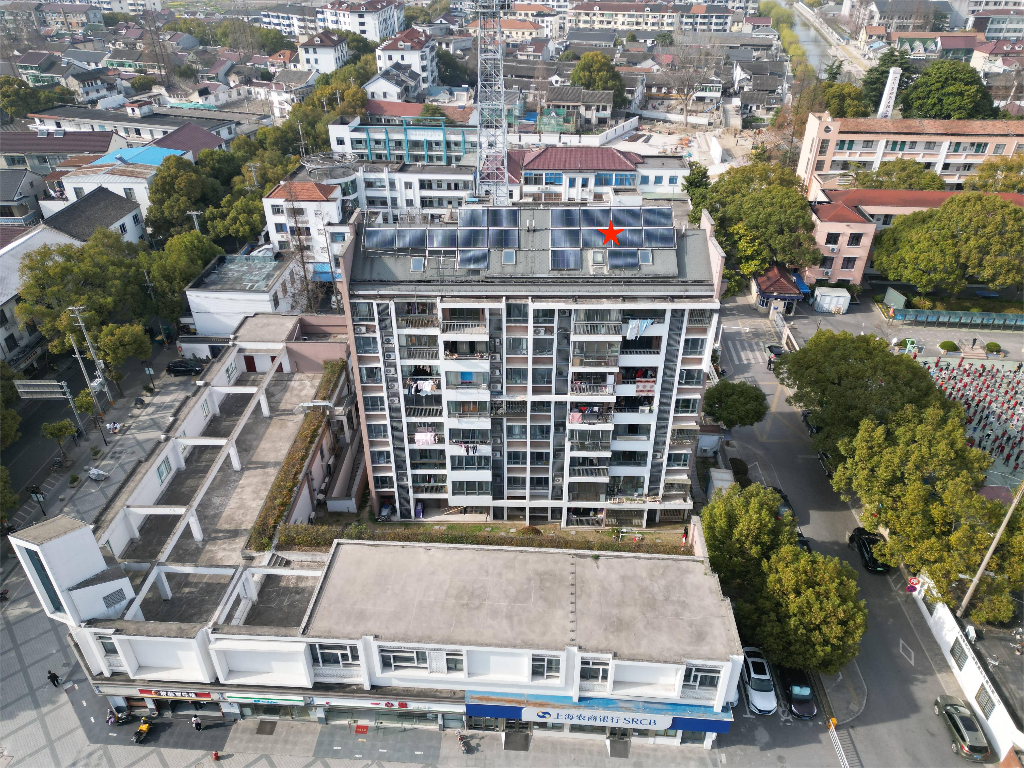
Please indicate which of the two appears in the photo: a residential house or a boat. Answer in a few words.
residential house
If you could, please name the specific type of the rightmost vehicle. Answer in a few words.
automobile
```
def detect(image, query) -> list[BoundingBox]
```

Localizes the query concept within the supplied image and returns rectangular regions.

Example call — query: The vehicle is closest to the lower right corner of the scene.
[928,691,1000,760]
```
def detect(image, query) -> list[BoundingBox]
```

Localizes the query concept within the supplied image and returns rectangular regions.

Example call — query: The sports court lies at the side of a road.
[777,350,1024,498]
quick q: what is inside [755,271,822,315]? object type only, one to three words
building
